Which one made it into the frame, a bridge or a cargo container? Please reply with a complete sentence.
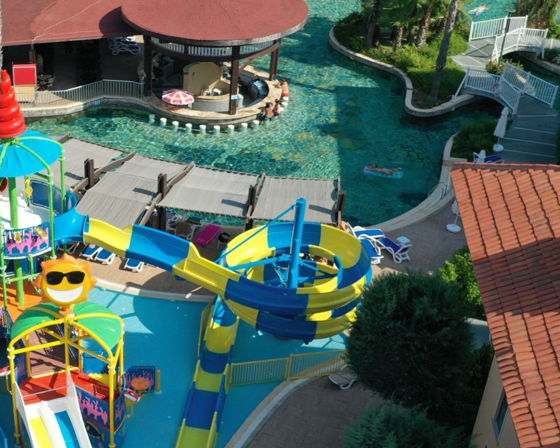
The image shows a bridge.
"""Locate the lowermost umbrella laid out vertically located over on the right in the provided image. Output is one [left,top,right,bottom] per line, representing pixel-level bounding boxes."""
[446,191,461,231]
